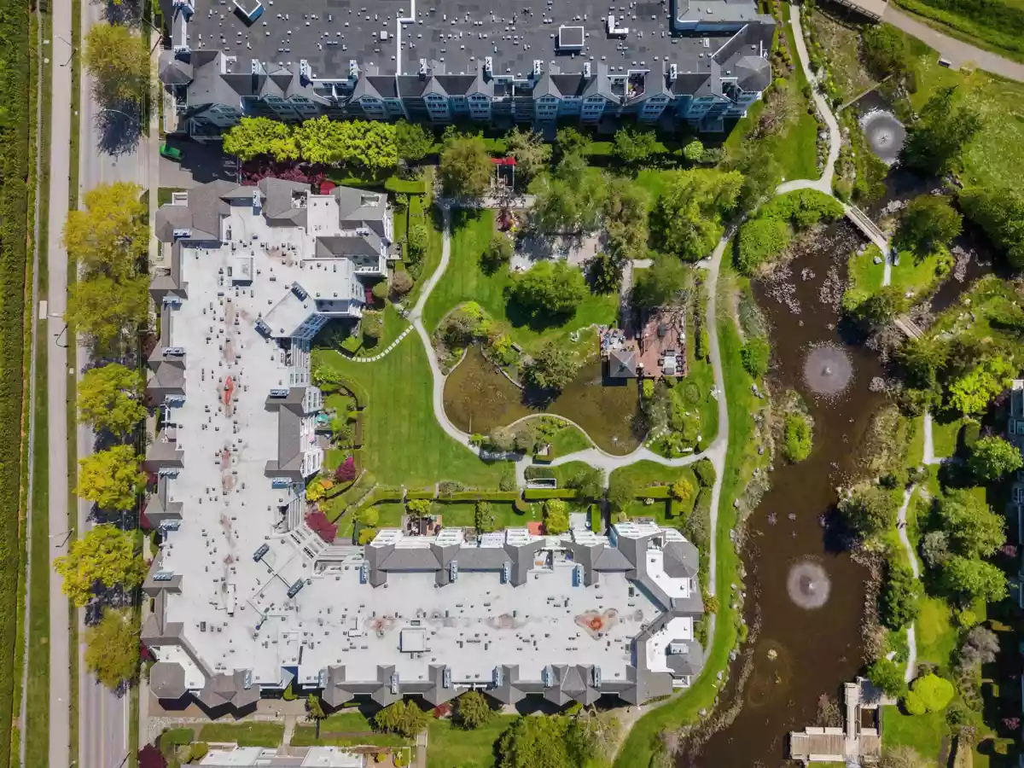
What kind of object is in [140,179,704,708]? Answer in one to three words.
building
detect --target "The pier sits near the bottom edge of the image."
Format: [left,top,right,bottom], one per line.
[789,678,898,768]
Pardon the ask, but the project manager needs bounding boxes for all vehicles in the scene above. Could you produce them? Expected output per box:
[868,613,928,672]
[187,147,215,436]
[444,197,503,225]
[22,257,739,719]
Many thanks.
[158,145,182,161]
